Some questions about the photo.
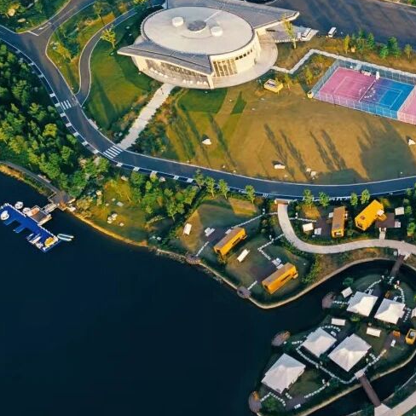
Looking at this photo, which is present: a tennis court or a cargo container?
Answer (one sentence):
The image shows a tennis court.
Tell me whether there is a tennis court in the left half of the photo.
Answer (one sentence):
No, I can find no tennis court in the left half of the photo.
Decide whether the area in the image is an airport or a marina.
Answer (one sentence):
This image shows a marina.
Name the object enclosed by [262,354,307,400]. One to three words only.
tent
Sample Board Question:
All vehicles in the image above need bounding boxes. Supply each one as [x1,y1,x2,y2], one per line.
[328,25,336,37]
[299,25,311,37]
